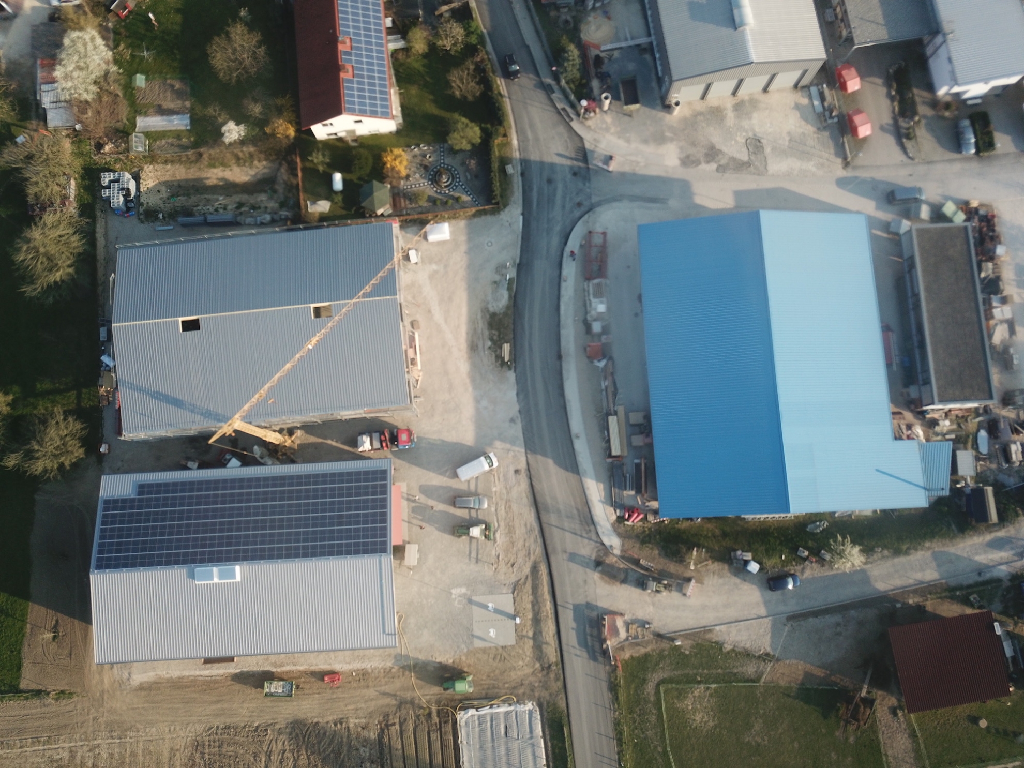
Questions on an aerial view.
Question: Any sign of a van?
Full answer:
Yes, looking at the shot, I can spot a van.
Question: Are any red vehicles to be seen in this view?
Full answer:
Yes, there's a red vehicle here.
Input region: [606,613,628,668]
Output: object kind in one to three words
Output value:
trailer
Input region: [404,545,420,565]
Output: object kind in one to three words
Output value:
shed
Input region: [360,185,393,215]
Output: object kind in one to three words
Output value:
gazebo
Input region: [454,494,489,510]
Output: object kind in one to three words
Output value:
car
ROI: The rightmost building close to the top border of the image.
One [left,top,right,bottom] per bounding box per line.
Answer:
[916,0,1024,102]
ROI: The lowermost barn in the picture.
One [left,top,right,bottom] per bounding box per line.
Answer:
[887,610,1010,713]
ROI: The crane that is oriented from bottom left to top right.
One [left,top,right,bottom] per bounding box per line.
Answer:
[208,226,436,465]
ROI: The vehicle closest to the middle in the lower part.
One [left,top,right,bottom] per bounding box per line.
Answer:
[453,452,498,482]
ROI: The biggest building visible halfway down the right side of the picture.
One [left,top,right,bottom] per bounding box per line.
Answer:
[637,210,926,518]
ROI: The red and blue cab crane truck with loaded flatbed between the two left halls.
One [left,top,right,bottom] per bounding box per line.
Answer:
[355,427,415,451]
